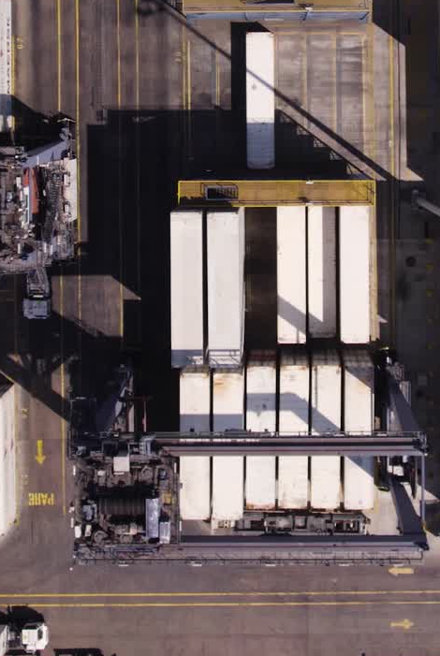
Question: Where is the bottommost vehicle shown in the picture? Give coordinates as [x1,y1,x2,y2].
[0,615,47,655]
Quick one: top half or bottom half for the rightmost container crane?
bottom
